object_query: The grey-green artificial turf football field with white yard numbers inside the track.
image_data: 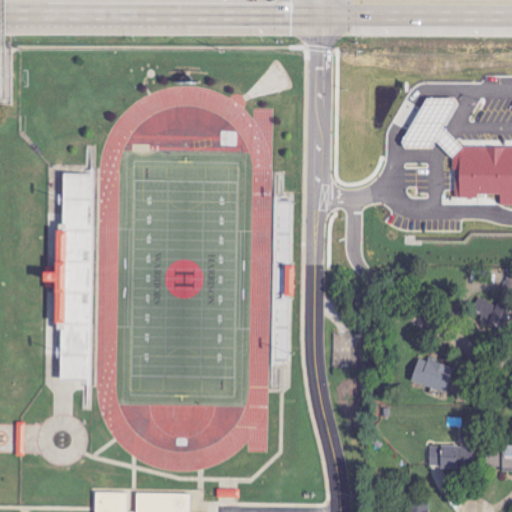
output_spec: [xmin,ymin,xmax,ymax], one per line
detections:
[117,152,252,406]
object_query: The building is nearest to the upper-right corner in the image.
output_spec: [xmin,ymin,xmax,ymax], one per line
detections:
[452,146,512,206]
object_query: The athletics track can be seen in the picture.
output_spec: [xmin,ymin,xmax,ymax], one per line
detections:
[97,86,273,472]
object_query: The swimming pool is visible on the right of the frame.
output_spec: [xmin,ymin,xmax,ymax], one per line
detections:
[446,416,462,428]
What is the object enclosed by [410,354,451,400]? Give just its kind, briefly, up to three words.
house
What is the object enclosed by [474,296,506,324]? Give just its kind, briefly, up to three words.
house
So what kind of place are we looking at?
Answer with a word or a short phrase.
sports ground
